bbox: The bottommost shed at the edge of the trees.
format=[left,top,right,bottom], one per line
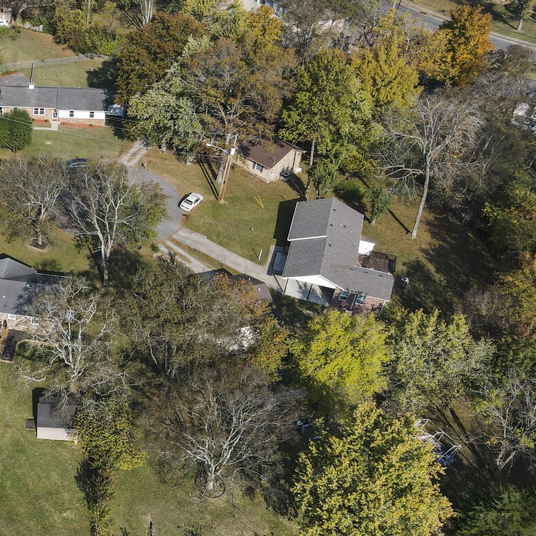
[25,395,76,442]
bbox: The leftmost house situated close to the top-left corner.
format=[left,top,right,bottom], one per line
[0,53,113,125]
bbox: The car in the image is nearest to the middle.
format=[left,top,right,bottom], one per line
[178,191,206,209]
